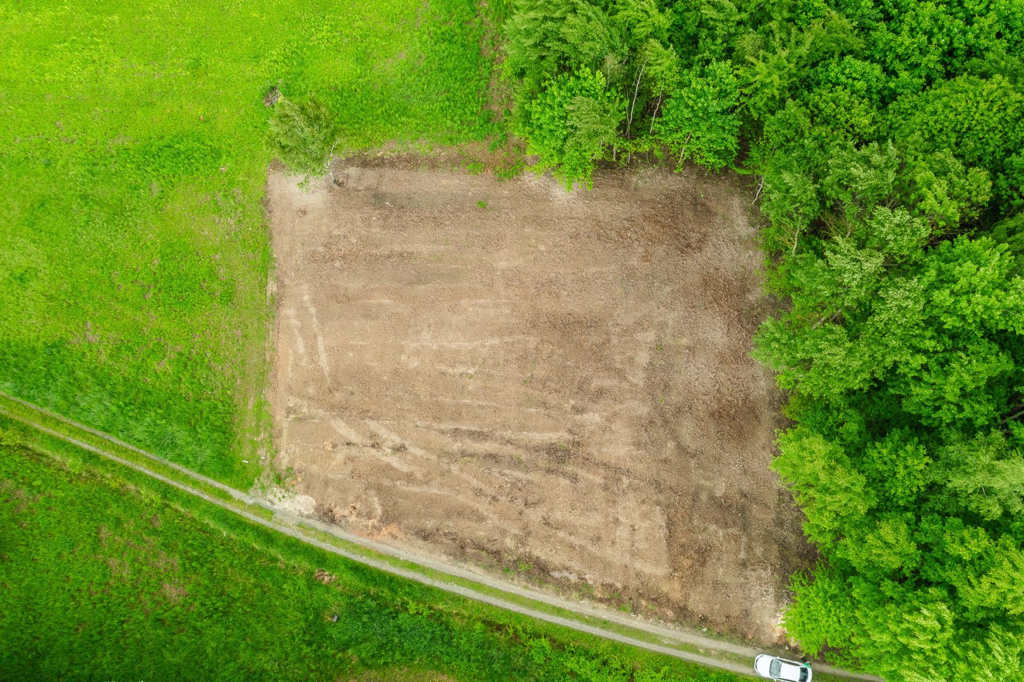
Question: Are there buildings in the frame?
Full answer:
No, the photo shows no building.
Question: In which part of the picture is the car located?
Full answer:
The car is in the bottom right part of the image.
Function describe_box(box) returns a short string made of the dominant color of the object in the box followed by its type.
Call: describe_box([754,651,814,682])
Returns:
white car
